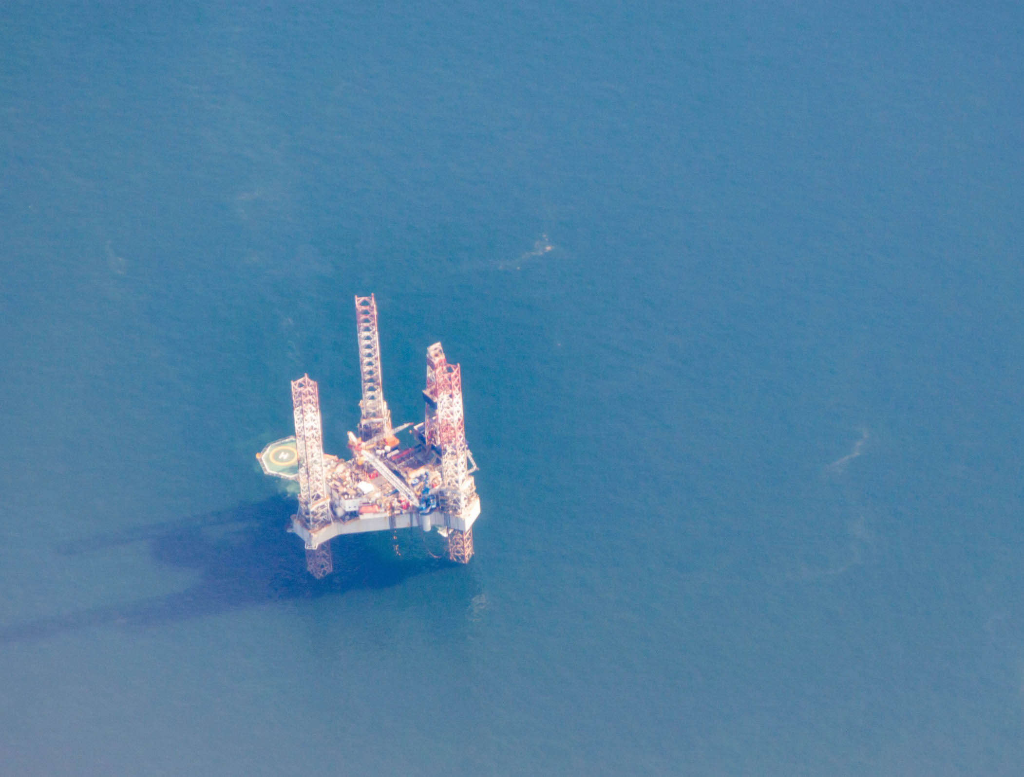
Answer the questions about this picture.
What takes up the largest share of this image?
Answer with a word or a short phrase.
water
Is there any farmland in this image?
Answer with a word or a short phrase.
No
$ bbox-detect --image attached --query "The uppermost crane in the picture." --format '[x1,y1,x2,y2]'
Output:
[347,421,420,469]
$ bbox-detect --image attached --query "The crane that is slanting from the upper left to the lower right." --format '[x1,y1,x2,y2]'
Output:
[360,450,438,532]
